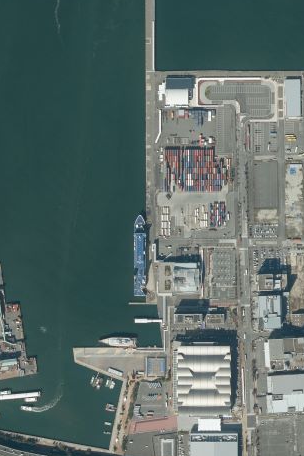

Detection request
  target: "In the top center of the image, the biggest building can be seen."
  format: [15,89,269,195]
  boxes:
[158,77,191,107]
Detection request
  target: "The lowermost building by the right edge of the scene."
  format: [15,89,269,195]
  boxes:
[254,375,304,412]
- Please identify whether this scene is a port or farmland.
port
